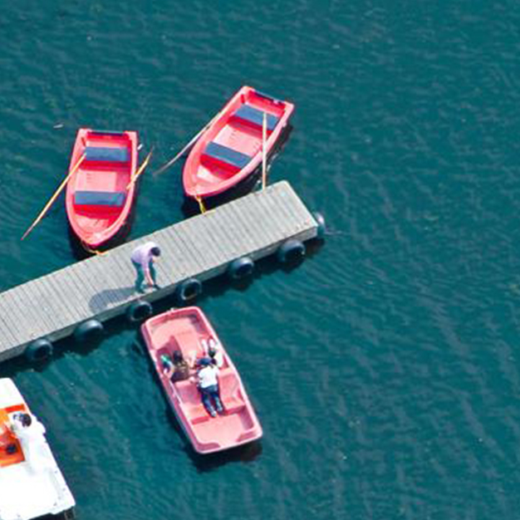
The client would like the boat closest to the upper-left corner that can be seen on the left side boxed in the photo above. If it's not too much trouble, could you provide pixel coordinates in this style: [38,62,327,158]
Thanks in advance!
[67,132,140,249]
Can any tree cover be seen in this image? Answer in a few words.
No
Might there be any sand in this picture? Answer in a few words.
No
